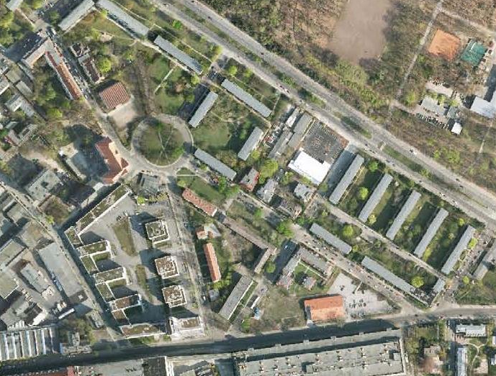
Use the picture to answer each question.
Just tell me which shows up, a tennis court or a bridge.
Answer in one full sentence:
This aerial view contains a tennis court.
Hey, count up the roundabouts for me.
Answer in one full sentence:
Only 1 roundabout is visible.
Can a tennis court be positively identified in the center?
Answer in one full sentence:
No, no tennis court can be made out in the center.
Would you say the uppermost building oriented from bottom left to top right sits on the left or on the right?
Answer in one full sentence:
The uppermost building oriented from bottom left to top right sits on the left side.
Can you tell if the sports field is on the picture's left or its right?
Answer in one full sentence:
The sports field appears in the right half of the scene.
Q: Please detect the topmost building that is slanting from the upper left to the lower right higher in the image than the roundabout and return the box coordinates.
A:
[98,0,151,37]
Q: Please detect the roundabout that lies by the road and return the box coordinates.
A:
[126,105,196,176]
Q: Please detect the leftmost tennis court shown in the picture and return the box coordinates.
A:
[431,29,461,60]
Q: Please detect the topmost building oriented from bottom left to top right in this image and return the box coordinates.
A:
[60,0,96,32]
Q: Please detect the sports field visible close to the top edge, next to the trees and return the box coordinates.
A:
[332,0,390,61]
